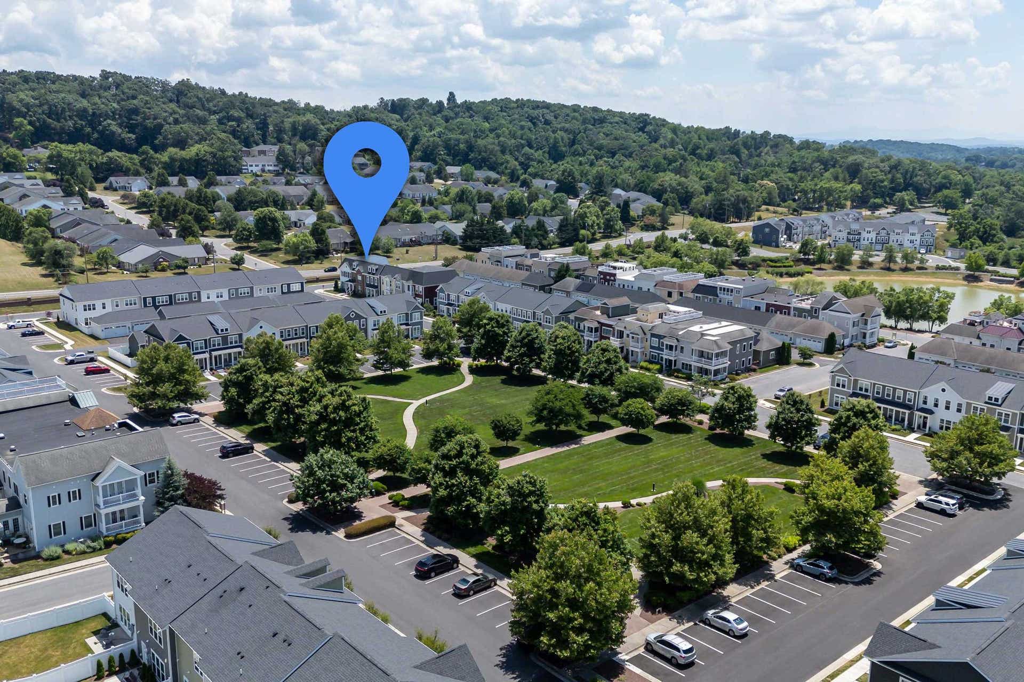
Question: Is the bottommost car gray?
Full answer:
Yes, the bottommost car appears gray.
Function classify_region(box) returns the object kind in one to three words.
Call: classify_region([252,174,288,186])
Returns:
house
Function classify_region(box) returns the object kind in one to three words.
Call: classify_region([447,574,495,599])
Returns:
car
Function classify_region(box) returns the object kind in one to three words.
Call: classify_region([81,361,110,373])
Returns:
vehicle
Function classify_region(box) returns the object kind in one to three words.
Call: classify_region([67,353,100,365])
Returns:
vehicle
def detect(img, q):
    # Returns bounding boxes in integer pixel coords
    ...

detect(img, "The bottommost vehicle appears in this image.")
[638,632,694,666]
